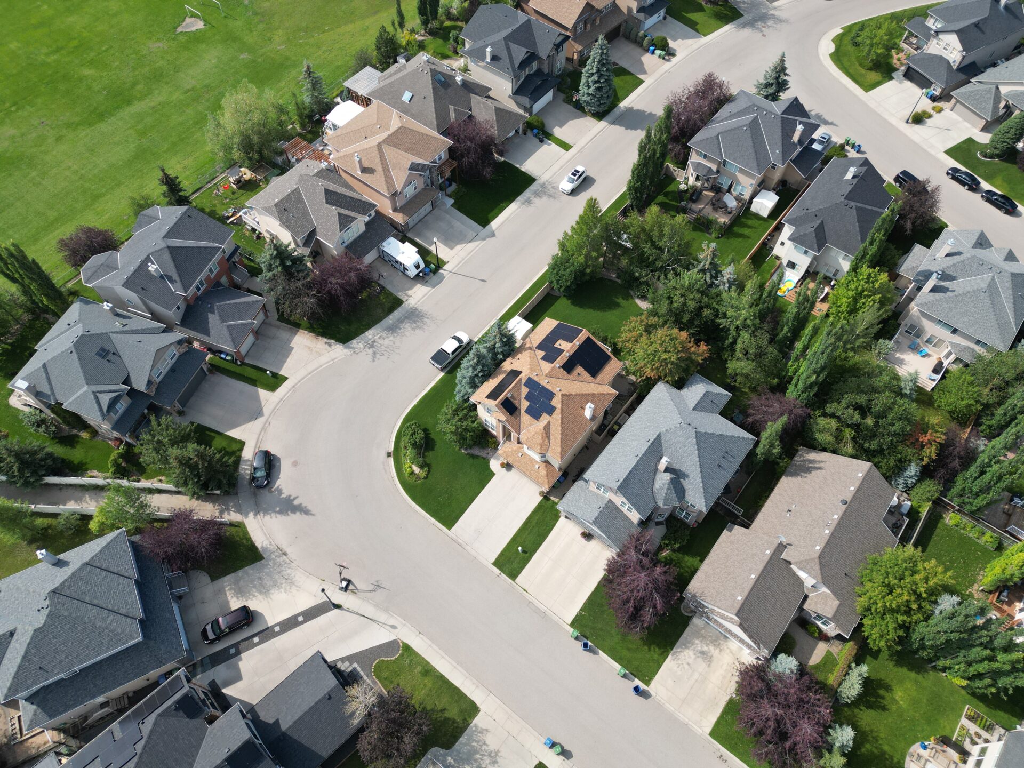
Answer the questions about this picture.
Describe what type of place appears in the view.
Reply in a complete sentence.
It's a residential area.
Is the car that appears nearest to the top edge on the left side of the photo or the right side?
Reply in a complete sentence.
You can find the car that appears nearest to the top edge on the right side of the picture.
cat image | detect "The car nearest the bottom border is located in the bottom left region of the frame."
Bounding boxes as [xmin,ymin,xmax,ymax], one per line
[200,609,253,649]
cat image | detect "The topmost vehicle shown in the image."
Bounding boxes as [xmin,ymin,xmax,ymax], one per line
[811,126,837,150]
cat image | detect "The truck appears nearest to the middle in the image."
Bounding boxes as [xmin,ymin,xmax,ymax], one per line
[427,332,472,371]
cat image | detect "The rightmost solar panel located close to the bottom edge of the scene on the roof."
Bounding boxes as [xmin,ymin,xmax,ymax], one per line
[224,741,267,768]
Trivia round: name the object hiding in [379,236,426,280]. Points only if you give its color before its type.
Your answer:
white trailer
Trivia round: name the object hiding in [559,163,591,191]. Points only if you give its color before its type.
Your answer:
white car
